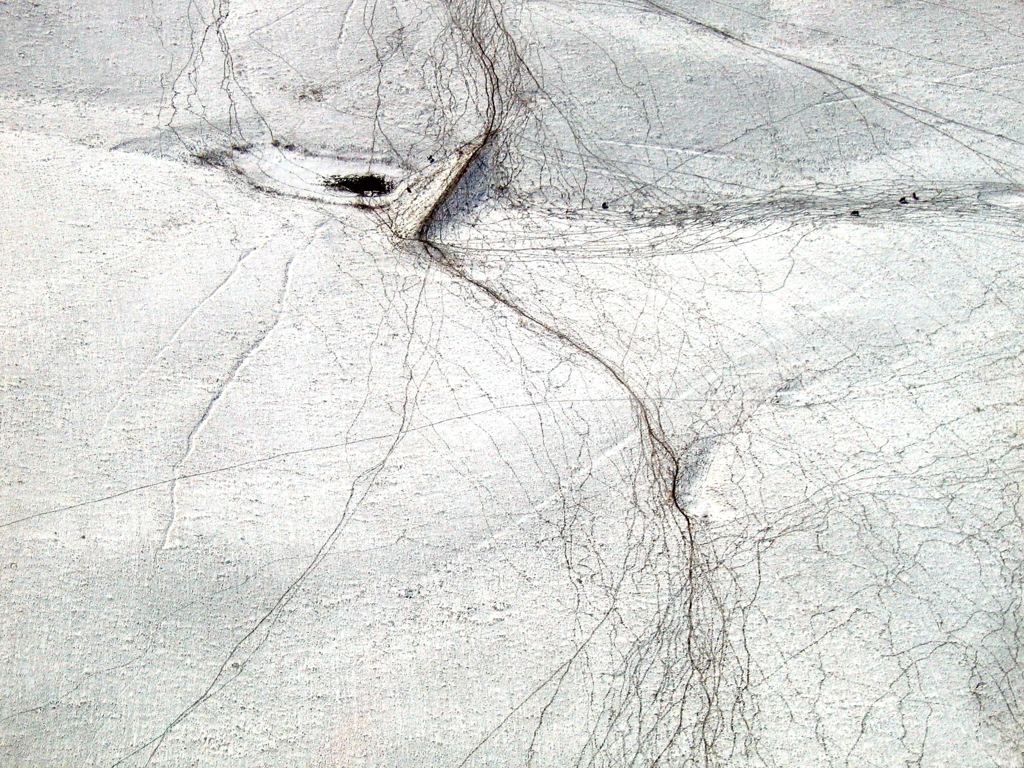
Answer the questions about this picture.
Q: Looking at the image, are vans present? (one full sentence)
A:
No, the scene contains no van.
